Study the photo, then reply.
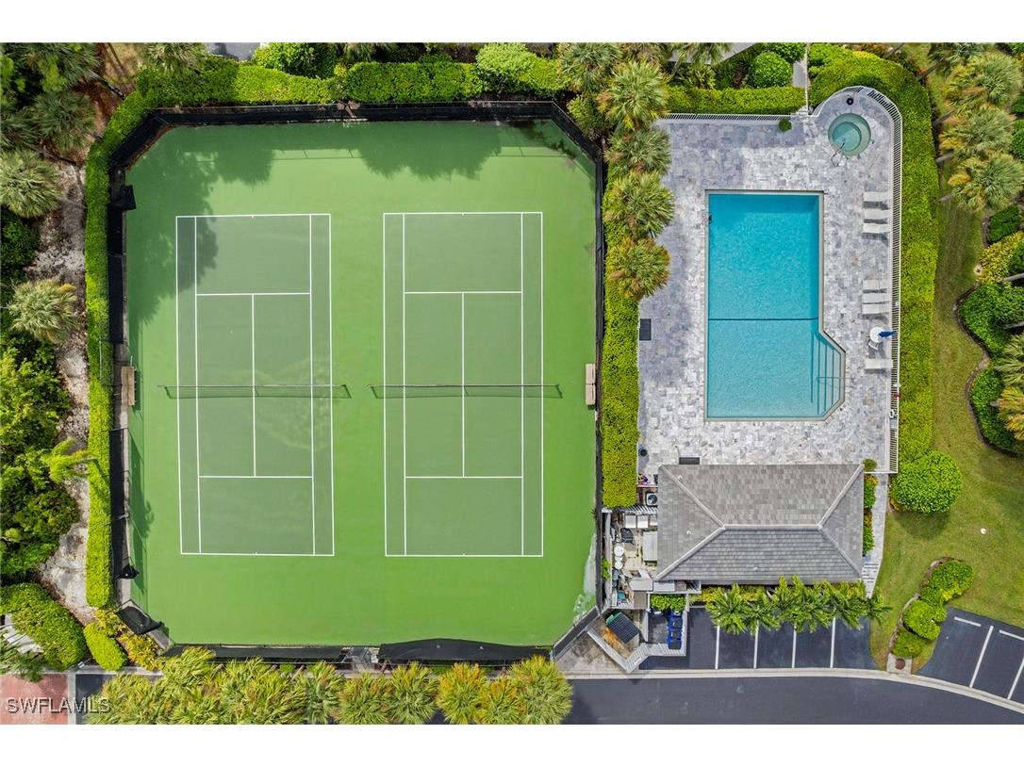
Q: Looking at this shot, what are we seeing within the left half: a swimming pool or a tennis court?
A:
tennis court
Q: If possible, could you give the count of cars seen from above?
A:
0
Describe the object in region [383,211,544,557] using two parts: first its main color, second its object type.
green tennis court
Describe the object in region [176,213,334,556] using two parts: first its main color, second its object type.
green tennis court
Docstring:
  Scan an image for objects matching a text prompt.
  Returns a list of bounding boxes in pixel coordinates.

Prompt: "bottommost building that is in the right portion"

[655,462,867,585]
